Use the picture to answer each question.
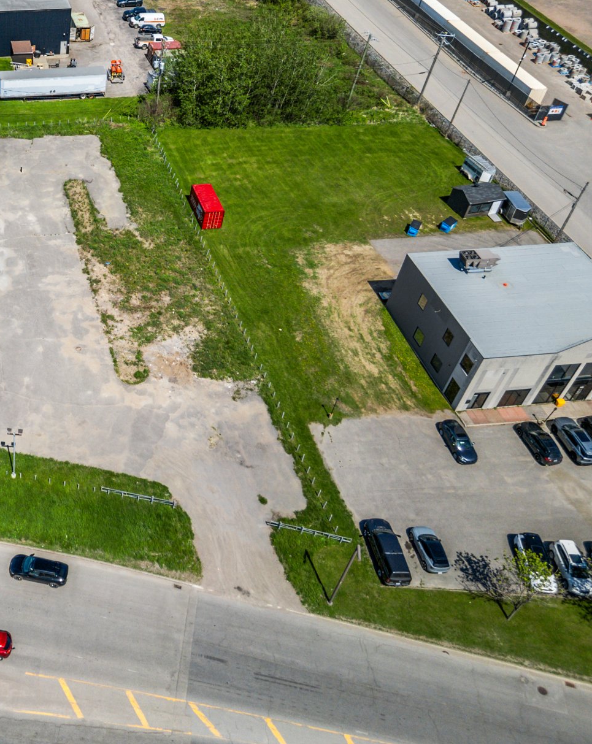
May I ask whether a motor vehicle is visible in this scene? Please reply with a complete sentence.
Yes, there is a motor vehicle in the image.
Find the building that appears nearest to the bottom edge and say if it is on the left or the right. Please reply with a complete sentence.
The building that appears nearest to the bottom edge is on the right side of the image.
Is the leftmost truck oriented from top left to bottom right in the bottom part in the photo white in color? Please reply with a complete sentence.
No, from above the leftmost truck oriented from top left to bottom right in the bottom part looks black.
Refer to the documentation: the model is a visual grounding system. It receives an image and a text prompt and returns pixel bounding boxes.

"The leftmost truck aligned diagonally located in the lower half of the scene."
[359,519,417,590]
